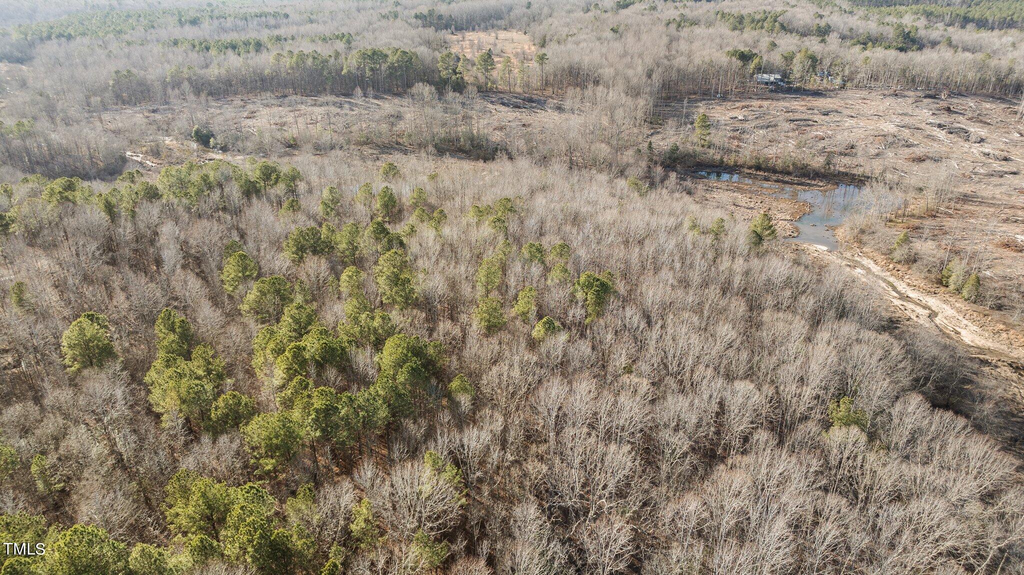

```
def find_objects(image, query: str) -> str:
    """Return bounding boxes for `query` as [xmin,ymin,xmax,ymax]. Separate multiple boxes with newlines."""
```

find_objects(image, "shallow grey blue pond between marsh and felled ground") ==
[692,171,892,254]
